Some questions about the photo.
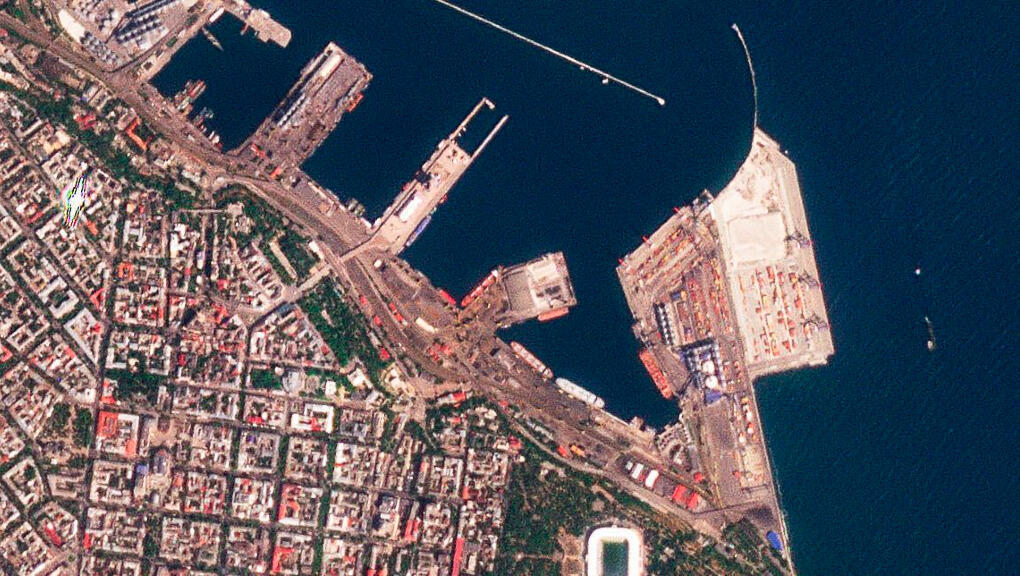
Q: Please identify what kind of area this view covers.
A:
port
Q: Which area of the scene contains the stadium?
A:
bottom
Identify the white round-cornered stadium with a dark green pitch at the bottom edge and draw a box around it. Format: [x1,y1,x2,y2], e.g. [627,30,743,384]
[586,525,641,576]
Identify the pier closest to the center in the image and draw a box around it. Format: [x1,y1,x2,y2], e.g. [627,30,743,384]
[458,251,579,334]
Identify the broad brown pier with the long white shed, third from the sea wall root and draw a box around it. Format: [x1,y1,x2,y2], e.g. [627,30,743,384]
[223,41,372,183]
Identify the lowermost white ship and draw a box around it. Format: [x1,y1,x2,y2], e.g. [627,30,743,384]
[557,380,607,409]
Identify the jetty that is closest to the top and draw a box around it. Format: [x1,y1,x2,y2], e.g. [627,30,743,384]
[227,0,291,47]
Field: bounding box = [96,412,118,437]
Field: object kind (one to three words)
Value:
building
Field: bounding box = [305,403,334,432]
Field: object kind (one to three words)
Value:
building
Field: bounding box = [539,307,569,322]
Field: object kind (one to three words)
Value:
ship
